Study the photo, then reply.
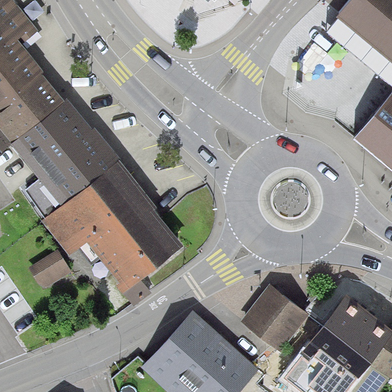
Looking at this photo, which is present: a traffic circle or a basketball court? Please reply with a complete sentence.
Looking from above, you can make out a traffic circle.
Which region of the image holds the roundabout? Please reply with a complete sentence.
The roundabout appears toward the right of the photo.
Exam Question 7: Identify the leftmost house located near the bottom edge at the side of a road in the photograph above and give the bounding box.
[144,312,260,392]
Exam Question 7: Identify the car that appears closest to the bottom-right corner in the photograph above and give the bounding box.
[362,258,382,270]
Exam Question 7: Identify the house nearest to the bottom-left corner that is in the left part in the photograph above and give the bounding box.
[32,250,72,289]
